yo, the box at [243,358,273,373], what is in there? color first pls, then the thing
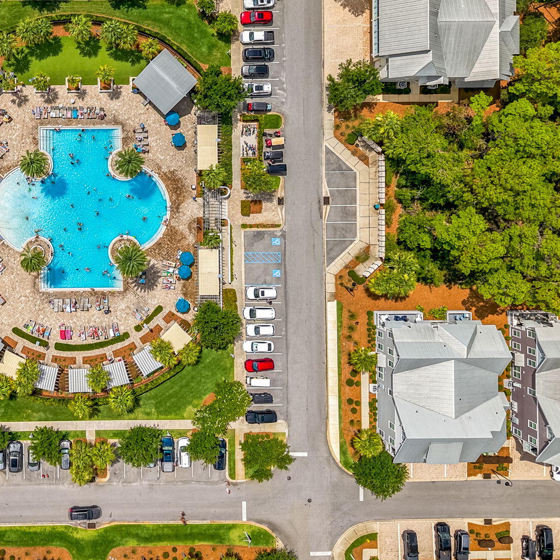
red car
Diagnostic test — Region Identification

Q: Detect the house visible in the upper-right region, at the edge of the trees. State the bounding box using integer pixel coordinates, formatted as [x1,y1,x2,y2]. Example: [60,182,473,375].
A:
[366,0,519,87]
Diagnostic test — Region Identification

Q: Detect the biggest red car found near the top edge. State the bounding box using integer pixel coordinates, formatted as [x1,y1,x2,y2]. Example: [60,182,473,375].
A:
[239,10,272,26]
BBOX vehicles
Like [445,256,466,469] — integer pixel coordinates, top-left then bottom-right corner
[68,504,101,522]
[401,529,419,560]
[26,449,39,472]
[241,339,274,354]
[550,462,560,482]
[452,529,472,560]
[240,64,268,78]
[246,103,269,113]
[536,524,555,560]
[263,165,287,173]
[214,438,230,471]
[245,323,274,337]
[8,440,23,472]
[244,285,276,301]
[241,306,275,322]
[264,137,287,147]
[242,46,274,62]
[243,82,272,97]
[243,358,273,373]
[261,151,284,160]
[239,29,274,44]
[245,375,269,385]
[161,435,176,473]
[239,10,272,26]
[434,521,453,560]
[177,435,191,468]
[250,391,272,402]
[518,533,536,559]
[244,408,277,424]
[242,0,273,9]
